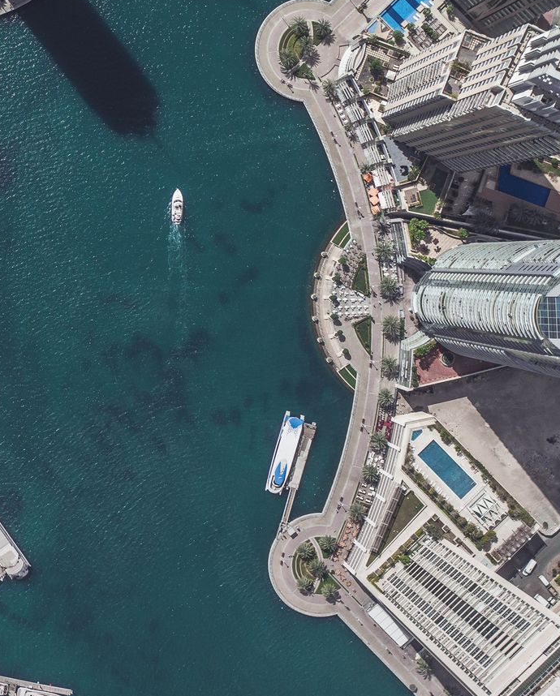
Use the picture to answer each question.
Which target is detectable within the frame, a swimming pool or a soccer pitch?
swimming pool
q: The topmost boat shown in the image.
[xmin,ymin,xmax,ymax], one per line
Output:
[171,188,183,225]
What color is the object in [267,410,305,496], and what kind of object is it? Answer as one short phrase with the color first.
white ship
